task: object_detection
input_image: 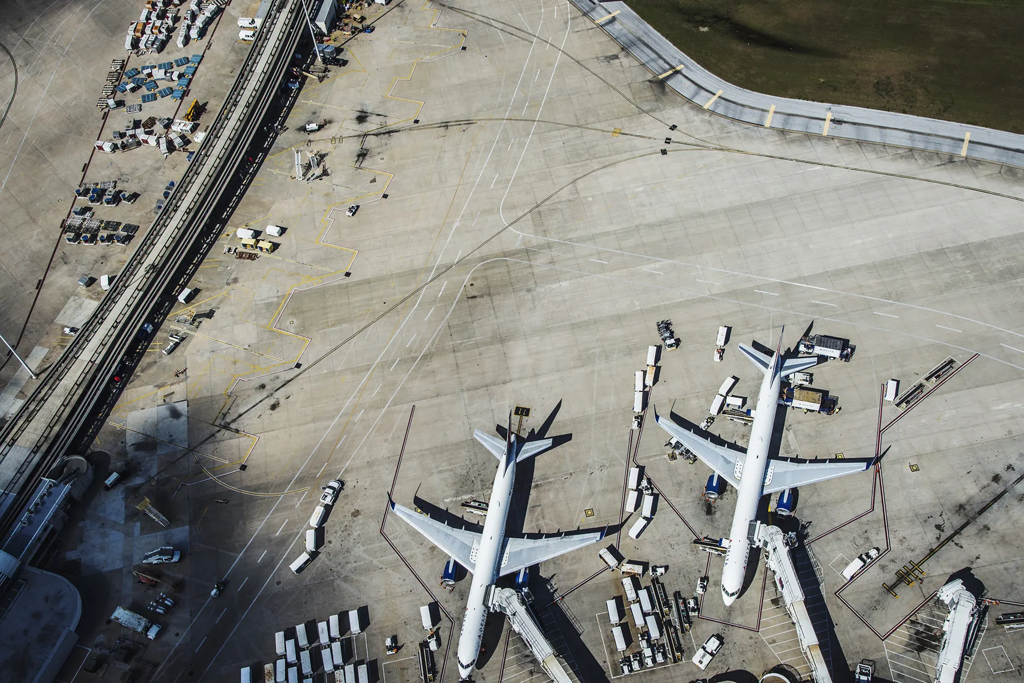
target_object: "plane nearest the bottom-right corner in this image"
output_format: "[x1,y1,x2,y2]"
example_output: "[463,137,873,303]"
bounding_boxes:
[652,326,878,604]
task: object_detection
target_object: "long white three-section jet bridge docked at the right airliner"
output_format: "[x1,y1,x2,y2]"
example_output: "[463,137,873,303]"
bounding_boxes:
[747,518,833,683]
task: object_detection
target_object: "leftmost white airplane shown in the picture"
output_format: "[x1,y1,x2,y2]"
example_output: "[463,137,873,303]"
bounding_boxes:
[387,412,609,680]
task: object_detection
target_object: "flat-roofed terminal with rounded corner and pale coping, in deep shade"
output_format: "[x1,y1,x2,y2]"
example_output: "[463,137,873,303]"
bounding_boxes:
[0,560,94,683]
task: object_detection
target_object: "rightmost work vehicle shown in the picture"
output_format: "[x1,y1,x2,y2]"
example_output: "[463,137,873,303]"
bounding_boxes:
[989,612,1024,632]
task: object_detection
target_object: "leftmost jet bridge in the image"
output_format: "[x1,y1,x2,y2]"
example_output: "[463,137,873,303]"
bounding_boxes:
[482,582,575,683]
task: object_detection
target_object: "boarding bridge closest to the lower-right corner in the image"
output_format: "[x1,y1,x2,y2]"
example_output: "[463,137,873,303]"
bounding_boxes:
[932,575,980,683]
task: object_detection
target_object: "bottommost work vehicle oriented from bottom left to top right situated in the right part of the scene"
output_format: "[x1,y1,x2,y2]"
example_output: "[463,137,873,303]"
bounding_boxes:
[690,633,724,670]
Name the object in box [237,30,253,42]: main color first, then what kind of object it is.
white vehicle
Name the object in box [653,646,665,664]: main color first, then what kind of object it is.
white vehicle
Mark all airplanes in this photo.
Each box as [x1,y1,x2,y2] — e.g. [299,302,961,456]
[387,412,609,680]
[652,326,878,604]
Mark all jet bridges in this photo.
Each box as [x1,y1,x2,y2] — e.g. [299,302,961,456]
[932,575,980,683]
[747,518,833,683]
[482,582,575,683]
